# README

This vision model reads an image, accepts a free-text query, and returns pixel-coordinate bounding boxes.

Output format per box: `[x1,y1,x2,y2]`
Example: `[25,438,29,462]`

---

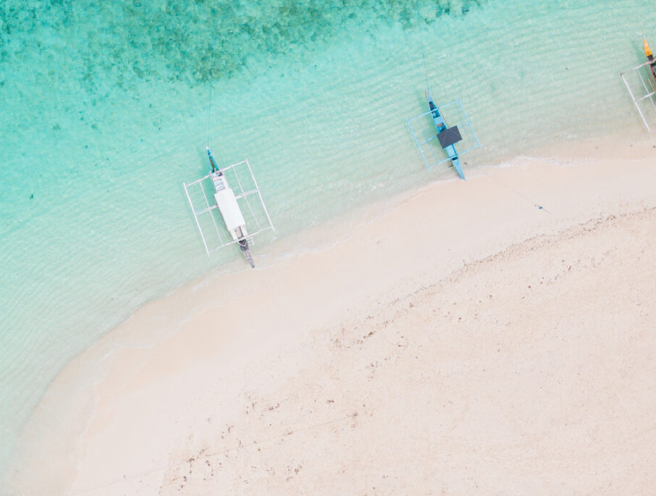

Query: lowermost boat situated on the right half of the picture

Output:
[407,86,481,182]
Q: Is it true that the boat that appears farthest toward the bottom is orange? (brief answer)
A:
No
